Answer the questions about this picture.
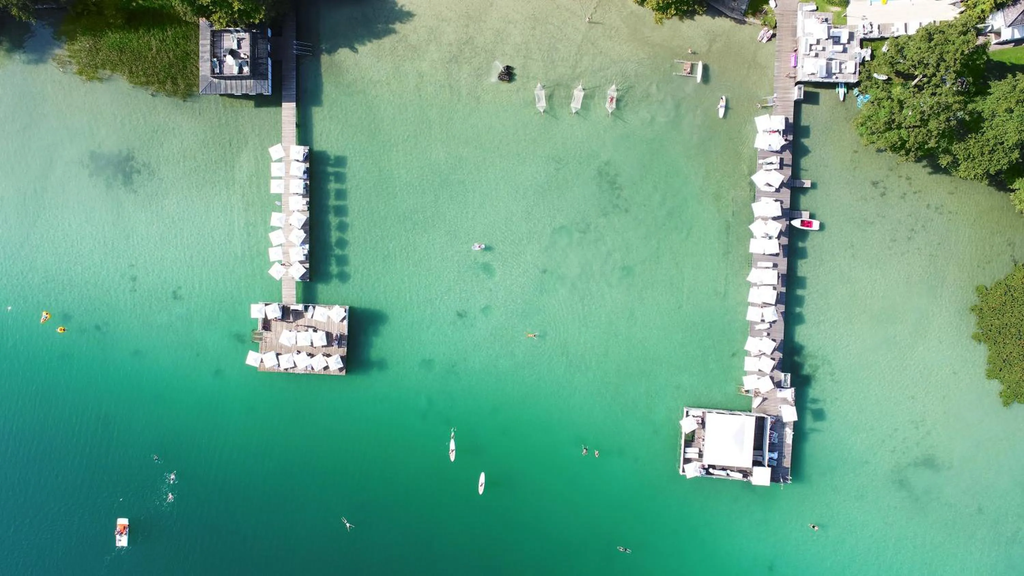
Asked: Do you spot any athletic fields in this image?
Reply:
No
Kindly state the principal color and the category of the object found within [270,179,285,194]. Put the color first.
white umbrella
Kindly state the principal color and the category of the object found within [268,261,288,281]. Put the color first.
white umbrella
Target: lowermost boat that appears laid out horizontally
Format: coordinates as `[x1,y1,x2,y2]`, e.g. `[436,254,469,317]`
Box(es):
[792,218,821,230]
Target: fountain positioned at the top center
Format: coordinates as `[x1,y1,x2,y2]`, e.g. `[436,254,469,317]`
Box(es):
[489,62,514,82]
